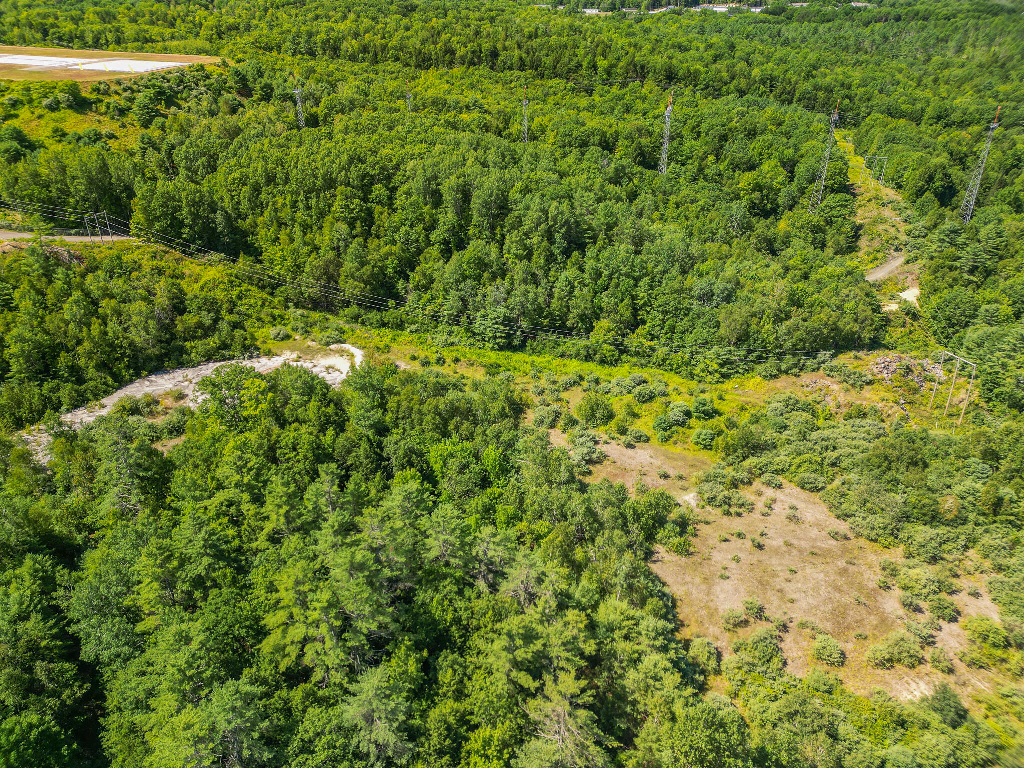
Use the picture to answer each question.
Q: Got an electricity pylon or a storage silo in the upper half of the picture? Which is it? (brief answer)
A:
electricity pylon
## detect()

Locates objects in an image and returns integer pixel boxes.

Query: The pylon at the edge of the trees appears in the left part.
[81,210,114,246]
